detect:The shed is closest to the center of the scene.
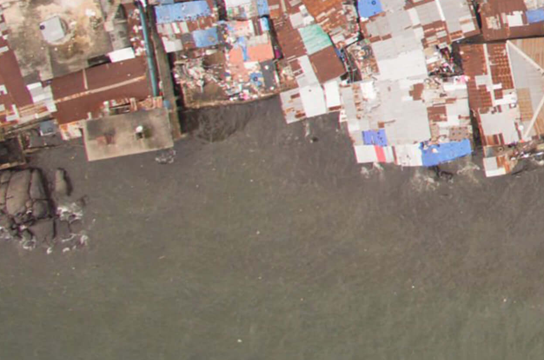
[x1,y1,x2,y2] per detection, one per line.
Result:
[280,83,329,124]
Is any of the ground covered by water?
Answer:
Yes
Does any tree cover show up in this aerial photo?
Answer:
No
